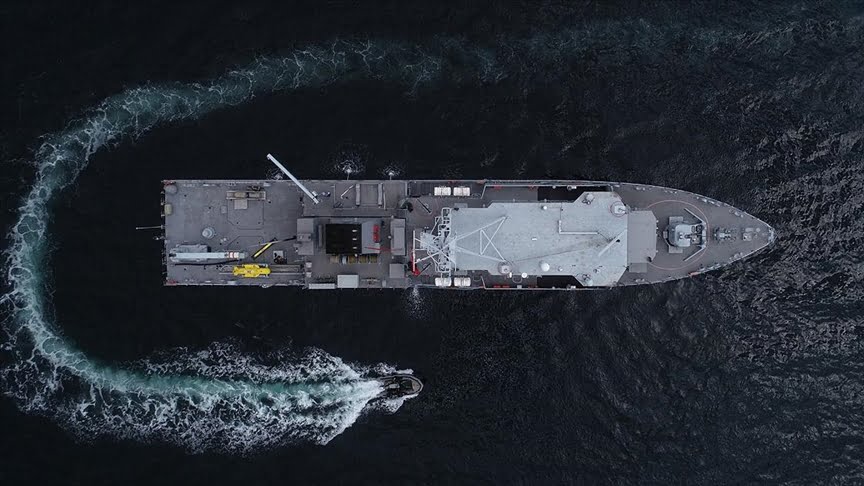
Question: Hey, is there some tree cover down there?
No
